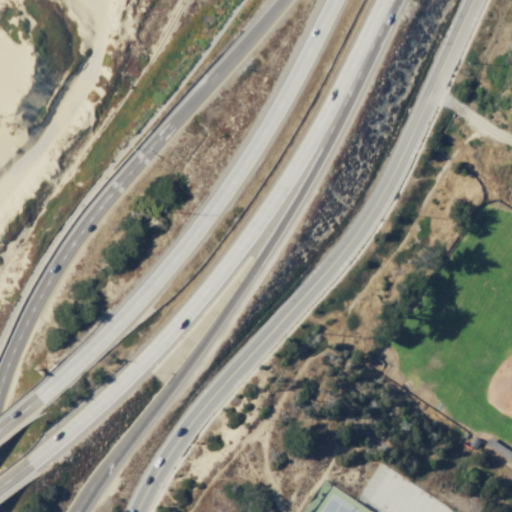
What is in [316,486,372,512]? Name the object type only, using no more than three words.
tennis court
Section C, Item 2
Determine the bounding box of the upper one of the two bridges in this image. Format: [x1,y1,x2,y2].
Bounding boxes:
[0,389,48,446]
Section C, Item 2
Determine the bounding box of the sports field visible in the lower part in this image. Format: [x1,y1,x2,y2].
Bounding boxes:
[392,204,512,444]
